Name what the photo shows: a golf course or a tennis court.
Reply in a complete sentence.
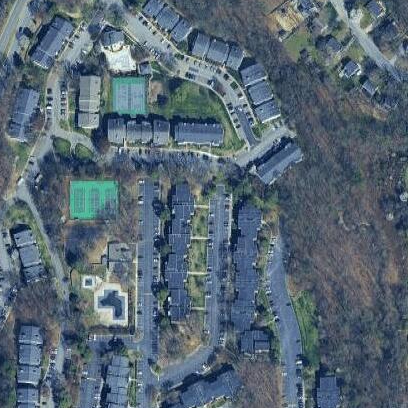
This aerial view contains a tennis court.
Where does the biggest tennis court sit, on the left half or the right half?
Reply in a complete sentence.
The biggest tennis court appears in the left half of the scene.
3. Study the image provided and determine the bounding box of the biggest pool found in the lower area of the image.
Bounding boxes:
[95,283,129,327]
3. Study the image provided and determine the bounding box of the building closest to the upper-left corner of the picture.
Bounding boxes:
[31,19,74,71]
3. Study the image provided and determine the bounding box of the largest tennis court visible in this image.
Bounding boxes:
[69,181,118,220]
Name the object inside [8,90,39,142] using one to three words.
building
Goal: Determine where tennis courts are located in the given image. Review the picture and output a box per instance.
[112,77,146,115]
[69,181,118,220]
